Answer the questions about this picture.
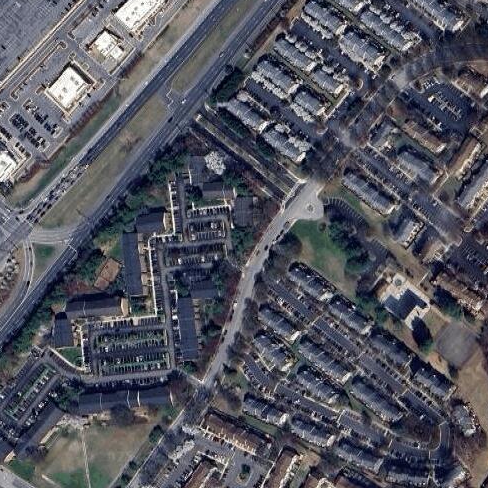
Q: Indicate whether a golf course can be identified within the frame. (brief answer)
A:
No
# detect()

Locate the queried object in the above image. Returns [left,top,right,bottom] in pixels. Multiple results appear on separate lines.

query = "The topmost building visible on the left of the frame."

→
[115,0,171,32]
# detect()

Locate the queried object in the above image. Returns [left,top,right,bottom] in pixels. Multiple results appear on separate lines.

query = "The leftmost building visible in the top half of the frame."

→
[0,148,20,183]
